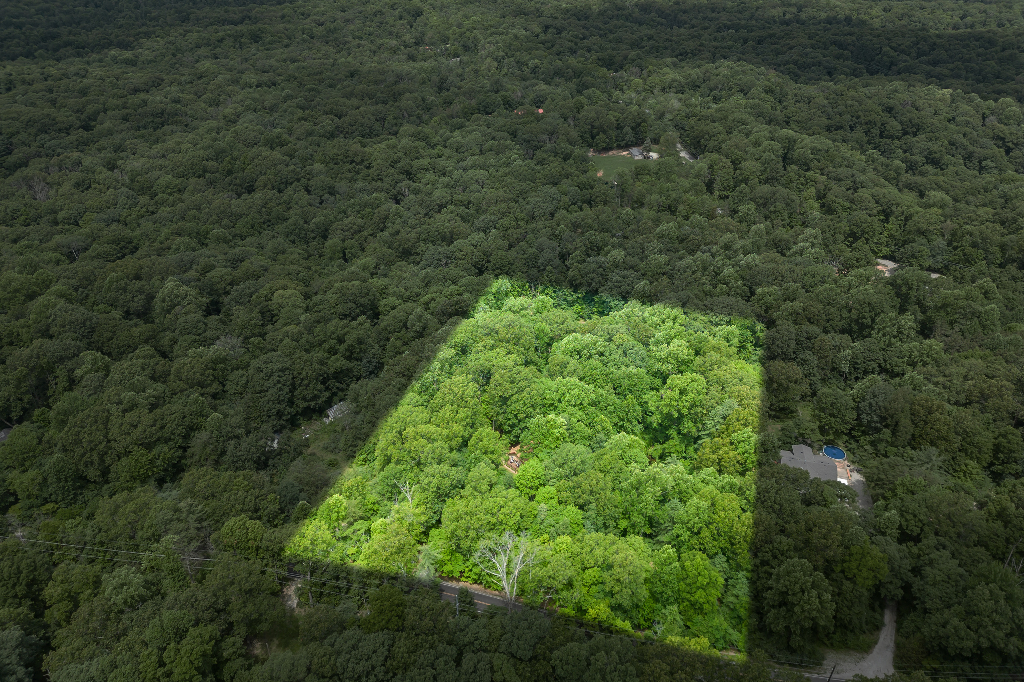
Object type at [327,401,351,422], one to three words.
shed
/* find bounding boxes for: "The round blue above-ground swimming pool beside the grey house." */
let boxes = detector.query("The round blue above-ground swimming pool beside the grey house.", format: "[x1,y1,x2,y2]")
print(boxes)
[821,445,847,461]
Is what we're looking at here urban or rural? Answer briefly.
rural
